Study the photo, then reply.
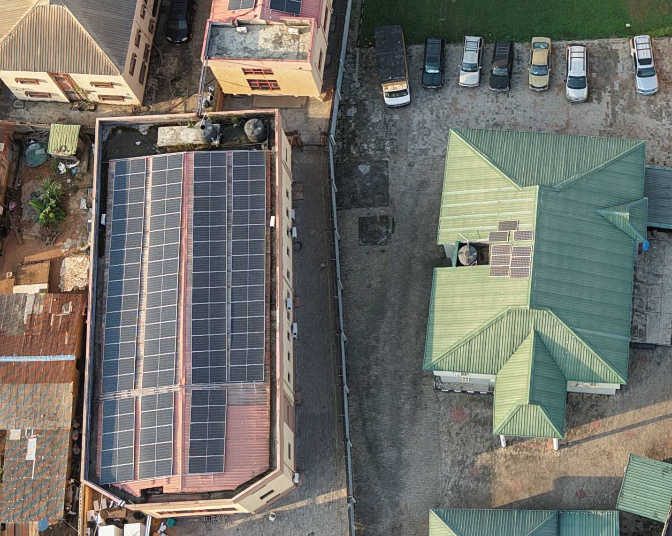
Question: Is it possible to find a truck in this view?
Yes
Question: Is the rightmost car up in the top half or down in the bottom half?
top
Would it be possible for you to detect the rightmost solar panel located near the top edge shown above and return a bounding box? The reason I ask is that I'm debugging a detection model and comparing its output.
[270,0,303,14]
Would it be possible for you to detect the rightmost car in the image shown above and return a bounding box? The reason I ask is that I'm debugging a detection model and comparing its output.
[631,36,659,95]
